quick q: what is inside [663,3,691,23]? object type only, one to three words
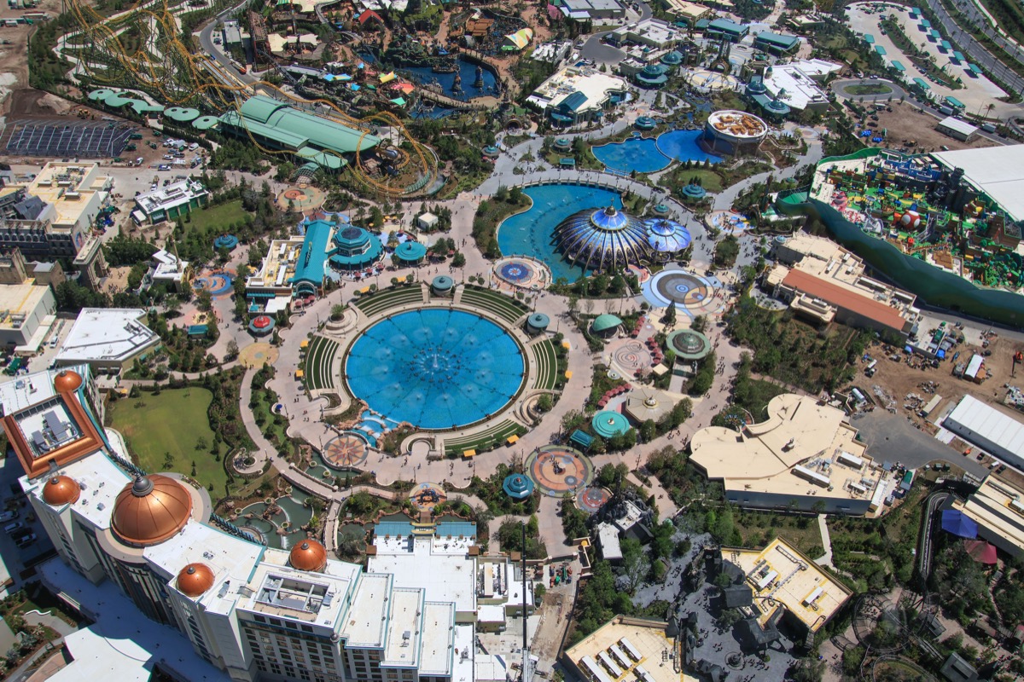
building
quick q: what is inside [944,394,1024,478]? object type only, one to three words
shed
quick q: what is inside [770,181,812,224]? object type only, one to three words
building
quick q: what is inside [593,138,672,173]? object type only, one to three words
swimming pool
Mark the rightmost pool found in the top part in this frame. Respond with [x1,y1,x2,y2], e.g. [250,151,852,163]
[657,128,725,162]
